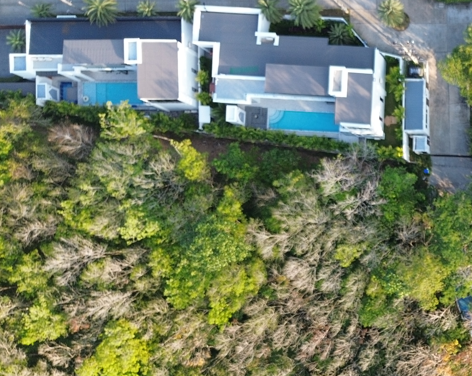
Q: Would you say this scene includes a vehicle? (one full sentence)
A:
No, there isn't any vehicle down there.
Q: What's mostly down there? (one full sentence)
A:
The largest share of the image is taken up by trees.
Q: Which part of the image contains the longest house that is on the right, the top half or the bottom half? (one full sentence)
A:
You can find the longest house that is on the right in the top half.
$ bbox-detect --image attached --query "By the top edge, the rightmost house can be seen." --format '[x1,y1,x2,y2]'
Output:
[194,6,387,142]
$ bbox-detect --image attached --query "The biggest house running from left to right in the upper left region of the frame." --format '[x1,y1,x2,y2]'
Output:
[9,15,198,113]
